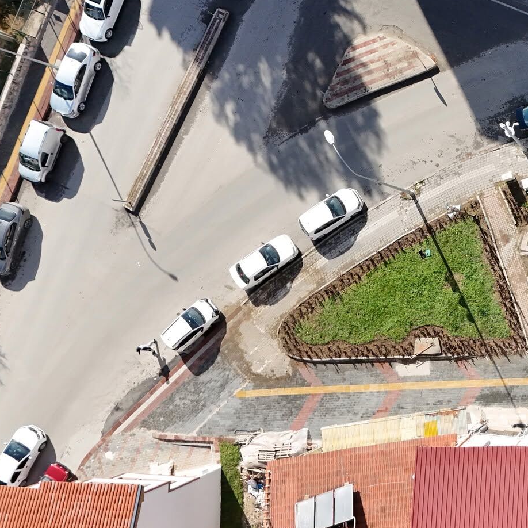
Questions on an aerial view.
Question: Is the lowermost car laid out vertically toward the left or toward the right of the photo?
left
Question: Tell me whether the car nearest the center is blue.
No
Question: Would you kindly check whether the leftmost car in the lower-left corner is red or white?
white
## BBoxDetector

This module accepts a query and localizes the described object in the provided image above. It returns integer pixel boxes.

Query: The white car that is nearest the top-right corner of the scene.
[296,188,365,240]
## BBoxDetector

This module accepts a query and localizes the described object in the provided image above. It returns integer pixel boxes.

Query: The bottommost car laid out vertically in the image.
[0,204,35,278]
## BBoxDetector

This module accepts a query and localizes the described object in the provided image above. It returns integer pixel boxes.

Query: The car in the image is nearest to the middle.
[227,236,299,289]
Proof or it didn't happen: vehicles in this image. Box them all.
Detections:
[296,188,365,240]
[37,464,79,485]
[17,121,68,184]
[81,0,124,43]
[154,298,223,353]
[0,426,51,484]
[227,236,299,289]
[0,204,35,278]
[51,41,105,118]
